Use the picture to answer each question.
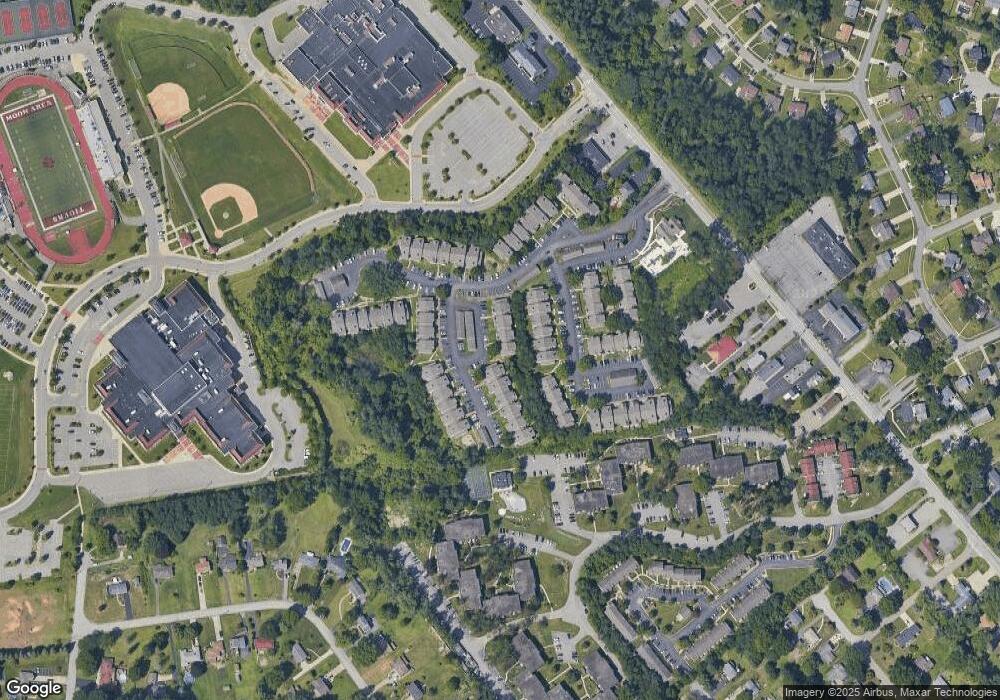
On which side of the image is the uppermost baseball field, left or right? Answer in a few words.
left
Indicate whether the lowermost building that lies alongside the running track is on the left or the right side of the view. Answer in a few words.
left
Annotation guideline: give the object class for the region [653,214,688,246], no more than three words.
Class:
building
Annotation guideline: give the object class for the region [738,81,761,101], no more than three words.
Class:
house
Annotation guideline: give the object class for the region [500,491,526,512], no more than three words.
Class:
swimming pool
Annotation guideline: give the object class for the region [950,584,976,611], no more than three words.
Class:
house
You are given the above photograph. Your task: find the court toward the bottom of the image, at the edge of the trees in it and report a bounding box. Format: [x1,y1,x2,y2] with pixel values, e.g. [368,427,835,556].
[465,465,491,501]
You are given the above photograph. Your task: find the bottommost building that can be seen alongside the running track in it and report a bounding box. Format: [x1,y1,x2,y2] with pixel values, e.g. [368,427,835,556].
[95,280,265,464]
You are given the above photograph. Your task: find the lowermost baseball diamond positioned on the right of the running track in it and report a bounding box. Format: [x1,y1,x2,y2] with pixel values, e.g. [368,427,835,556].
[176,103,316,246]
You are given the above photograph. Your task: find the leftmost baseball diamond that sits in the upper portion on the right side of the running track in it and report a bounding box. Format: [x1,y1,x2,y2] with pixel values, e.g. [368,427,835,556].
[129,34,229,130]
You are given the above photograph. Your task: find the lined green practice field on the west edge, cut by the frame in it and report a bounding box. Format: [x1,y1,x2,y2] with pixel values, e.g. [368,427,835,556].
[0,352,35,504]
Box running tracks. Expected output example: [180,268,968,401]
[0,76,114,263]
